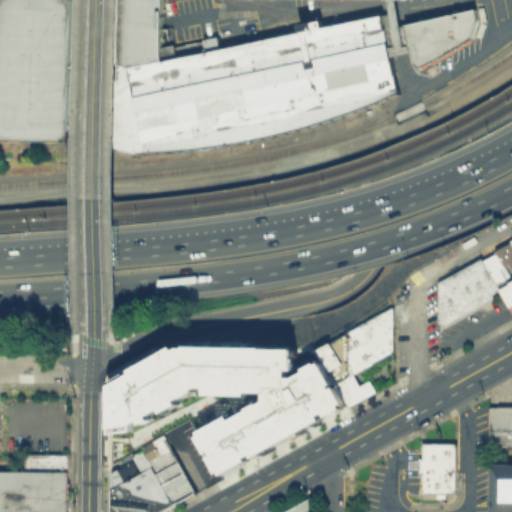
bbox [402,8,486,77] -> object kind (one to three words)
building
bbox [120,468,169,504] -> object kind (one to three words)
building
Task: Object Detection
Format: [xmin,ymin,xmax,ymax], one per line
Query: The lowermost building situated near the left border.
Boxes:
[0,472,68,512]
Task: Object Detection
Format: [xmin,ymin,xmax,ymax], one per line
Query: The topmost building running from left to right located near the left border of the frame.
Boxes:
[25,454,68,470]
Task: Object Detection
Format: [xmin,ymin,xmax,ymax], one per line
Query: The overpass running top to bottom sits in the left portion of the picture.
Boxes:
[68,0,114,337]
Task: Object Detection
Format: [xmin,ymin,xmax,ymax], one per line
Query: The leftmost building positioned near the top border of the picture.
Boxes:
[0,0,67,139]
